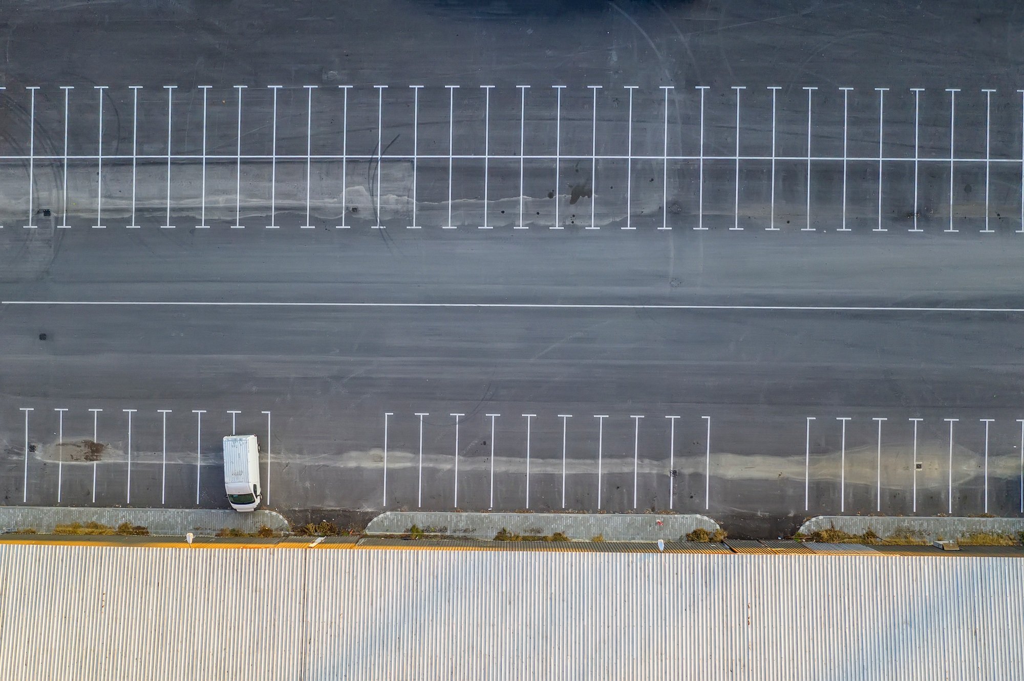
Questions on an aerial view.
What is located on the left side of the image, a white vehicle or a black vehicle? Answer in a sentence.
The one visible on the left side of the image is a white vehicle.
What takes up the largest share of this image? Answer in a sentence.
Most of the picture is covered by paved ground.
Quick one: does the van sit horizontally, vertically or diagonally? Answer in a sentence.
What the image shows is the van lying vertically.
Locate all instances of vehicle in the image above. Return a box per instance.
[223,434,262,513]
